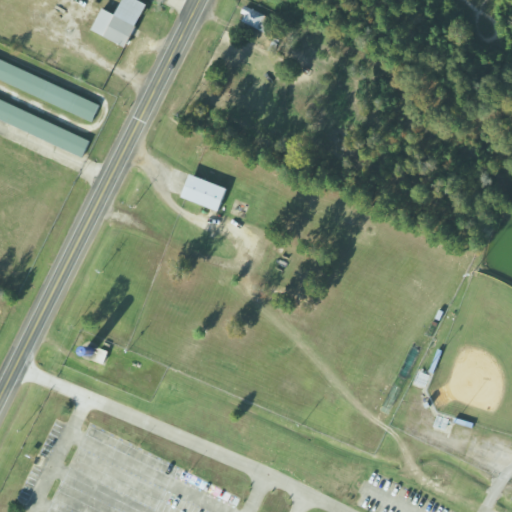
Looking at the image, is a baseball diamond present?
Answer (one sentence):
Yes, the image includes a baseball diamond.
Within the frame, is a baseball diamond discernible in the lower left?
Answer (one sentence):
No, in the lower left there is no baseball diamond.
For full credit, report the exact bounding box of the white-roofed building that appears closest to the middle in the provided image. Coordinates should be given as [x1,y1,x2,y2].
[180,174,228,212]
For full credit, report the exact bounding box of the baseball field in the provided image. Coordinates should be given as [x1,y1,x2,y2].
[436,346,505,413]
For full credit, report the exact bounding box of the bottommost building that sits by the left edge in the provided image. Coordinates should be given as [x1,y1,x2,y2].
[0,101,90,156]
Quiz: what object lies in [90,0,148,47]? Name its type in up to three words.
barn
